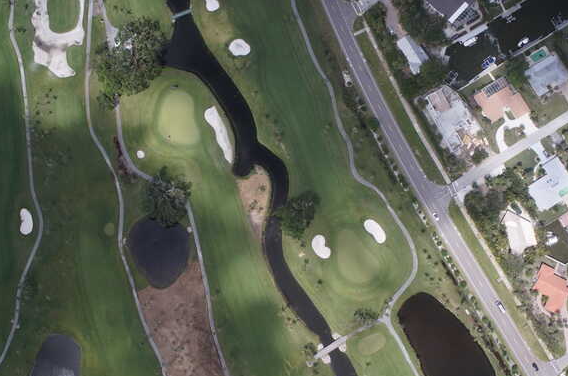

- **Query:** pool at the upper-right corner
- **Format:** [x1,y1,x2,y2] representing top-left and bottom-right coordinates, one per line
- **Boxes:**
[527,47,550,63]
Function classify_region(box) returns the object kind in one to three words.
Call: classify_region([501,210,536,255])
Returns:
house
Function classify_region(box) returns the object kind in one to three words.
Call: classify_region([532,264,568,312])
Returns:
house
